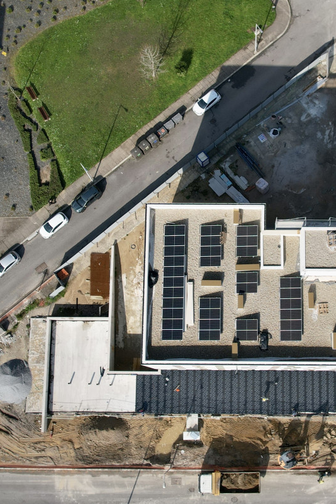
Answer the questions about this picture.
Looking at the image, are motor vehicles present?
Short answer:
Yes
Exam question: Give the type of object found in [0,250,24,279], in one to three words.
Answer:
car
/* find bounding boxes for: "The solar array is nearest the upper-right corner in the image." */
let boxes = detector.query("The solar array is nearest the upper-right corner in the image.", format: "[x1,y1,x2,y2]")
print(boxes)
[237,226,258,258]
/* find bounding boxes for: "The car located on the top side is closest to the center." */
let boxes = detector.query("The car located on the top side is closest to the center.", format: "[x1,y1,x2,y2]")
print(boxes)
[71,180,103,211]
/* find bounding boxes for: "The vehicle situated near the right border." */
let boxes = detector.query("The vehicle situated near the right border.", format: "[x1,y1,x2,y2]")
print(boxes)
[273,448,324,473]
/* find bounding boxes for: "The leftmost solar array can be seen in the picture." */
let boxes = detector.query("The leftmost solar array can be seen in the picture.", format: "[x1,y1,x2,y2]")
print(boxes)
[162,225,186,341]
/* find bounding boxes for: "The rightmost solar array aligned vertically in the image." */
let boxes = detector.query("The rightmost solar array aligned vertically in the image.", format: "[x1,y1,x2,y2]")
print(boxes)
[279,278,302,342]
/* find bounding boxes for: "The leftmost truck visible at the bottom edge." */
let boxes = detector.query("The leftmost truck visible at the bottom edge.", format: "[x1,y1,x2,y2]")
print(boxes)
[198,473,265,499]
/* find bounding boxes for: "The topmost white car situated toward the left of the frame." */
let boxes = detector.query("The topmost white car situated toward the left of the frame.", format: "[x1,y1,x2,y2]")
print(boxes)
[38,211,70,239]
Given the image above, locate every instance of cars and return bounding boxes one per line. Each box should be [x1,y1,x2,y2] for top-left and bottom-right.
[0,250,24,279]
[71,180,103,211]
[192,89,221,116]
[38,211,70,239]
